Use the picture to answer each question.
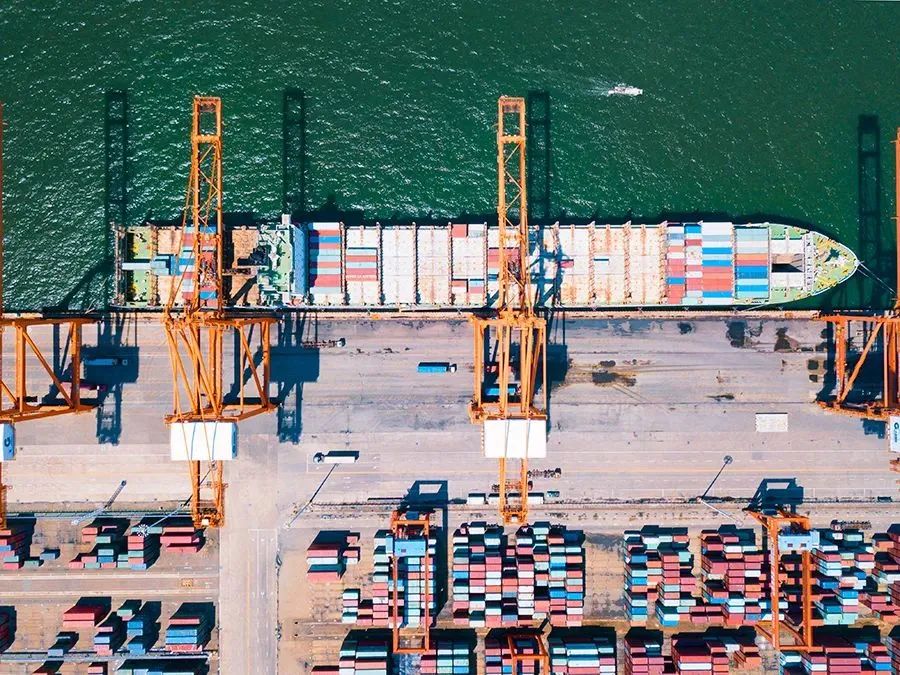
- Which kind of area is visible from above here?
port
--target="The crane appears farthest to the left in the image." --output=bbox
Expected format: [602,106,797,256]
[0,98,104,528]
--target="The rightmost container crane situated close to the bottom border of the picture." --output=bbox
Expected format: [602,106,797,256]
[742,502,822,653]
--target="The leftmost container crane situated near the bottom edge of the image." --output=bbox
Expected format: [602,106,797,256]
[382,502,434,653]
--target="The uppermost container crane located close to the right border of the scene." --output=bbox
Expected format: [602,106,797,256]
[798,98,900,528]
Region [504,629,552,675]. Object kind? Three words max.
container crane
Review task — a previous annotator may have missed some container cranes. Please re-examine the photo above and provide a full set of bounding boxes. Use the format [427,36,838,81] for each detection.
[0,98,104,528]
[466,97,542,528]
[742,502,822,653]
[504,629,552,675]
[382,502,434,653]
[159,97,286,528]
[798,98,900,528]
